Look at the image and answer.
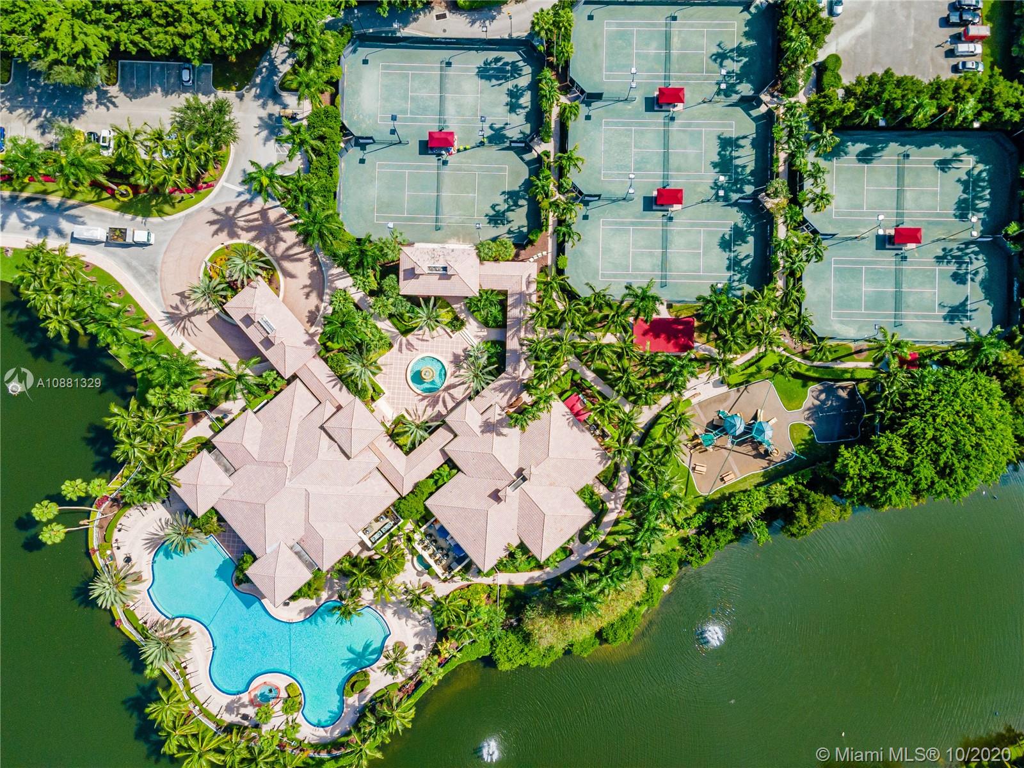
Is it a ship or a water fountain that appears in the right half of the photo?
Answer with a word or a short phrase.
water fountain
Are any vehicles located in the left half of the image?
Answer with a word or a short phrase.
Yes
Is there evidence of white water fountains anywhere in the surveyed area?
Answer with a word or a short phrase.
Yes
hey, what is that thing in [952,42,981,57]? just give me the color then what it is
white car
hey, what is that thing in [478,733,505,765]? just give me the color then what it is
white fountain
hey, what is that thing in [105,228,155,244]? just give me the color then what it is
white vehicle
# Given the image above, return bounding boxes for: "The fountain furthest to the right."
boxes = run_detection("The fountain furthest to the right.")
[694,619,728,650]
